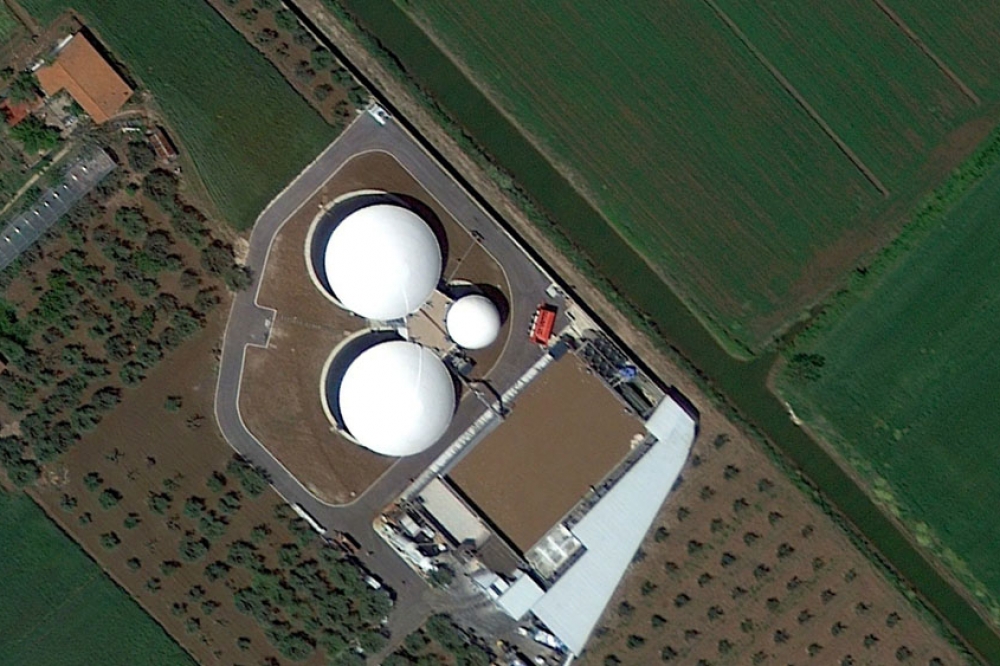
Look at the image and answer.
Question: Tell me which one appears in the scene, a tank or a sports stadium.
tank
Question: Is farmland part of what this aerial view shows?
Yes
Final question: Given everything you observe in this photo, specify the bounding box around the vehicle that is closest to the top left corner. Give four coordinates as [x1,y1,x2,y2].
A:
[63,113,79,127]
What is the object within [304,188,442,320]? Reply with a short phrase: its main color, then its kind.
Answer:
white storage tank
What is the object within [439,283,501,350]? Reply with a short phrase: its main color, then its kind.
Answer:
white storage tank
